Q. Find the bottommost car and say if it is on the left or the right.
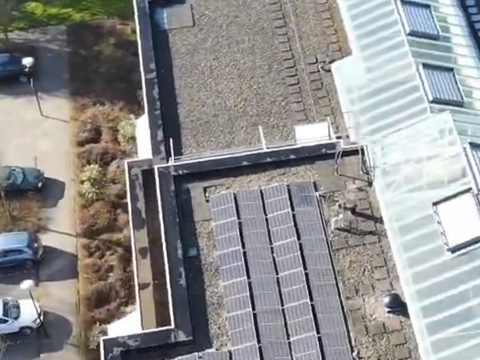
left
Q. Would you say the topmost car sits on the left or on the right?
left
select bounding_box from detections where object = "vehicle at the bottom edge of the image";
[0,304,49,345]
